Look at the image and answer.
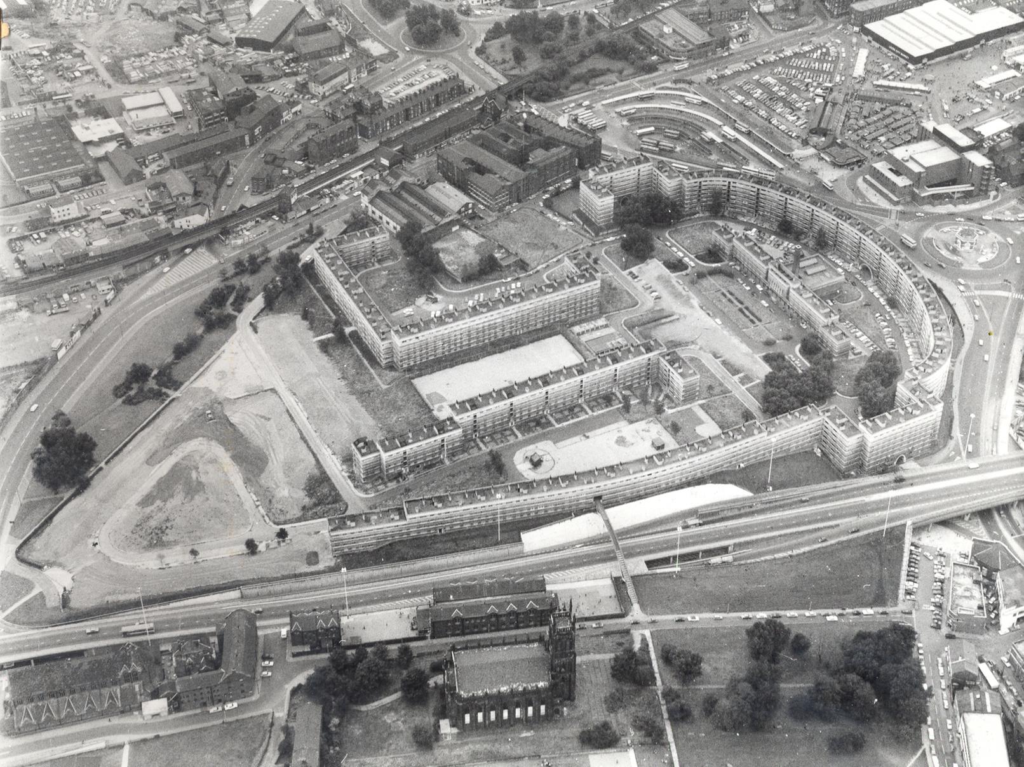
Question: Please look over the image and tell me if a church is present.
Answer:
Yes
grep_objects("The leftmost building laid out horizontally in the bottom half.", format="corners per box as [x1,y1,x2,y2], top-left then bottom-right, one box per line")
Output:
[9,636,147,728]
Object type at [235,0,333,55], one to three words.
building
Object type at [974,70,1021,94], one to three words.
shed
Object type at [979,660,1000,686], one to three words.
truck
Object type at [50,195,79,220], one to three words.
house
